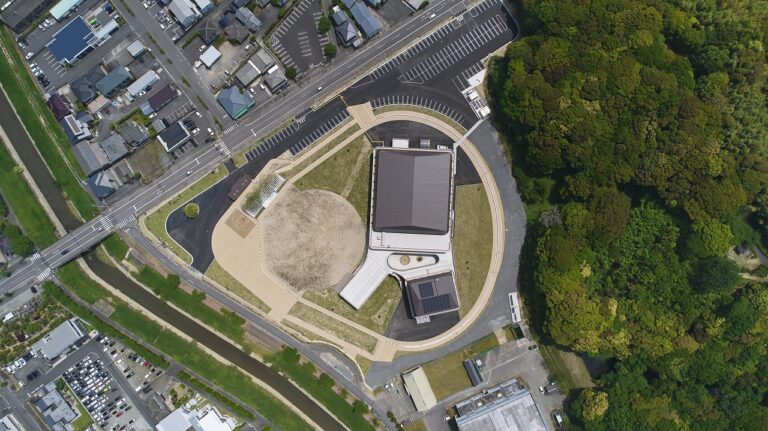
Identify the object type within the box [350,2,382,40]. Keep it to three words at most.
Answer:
building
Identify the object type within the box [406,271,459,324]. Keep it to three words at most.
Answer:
building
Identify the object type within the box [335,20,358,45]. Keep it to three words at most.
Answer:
house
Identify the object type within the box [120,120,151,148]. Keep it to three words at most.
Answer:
house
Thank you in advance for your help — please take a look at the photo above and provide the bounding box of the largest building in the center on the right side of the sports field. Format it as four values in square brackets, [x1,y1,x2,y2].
[370,147,454,238]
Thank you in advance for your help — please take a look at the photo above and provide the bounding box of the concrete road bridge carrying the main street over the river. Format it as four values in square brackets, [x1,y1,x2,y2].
[37,212,118,272]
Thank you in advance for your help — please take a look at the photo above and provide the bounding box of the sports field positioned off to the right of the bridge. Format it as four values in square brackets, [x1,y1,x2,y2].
[262,189,367,292]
